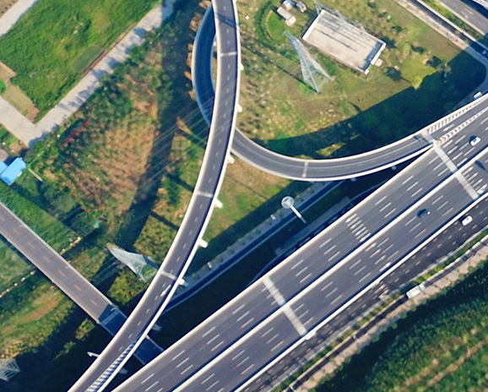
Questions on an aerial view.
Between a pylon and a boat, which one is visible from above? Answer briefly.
pylon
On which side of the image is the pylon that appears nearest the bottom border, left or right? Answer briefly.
left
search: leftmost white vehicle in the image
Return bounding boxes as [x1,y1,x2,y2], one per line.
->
[407,285,423,298]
